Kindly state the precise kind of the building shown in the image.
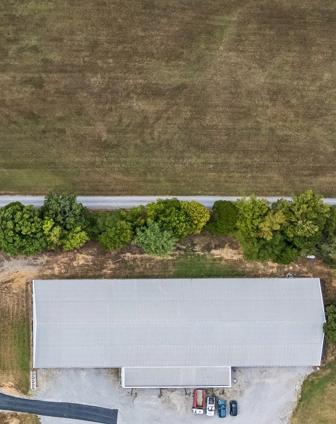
warehouse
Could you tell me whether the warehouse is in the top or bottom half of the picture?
bottom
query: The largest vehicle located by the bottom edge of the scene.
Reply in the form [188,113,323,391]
[192,390,206,414]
